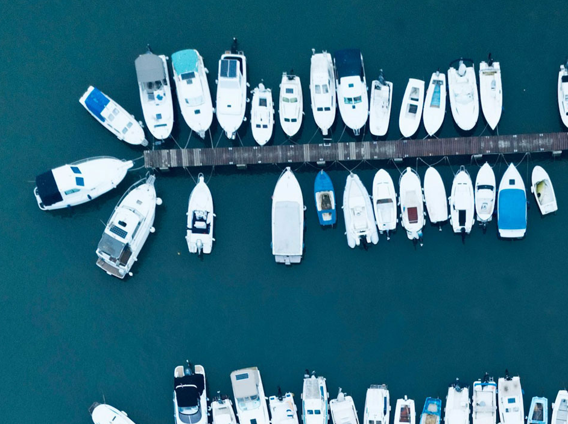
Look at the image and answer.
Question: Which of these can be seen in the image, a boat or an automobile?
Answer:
boat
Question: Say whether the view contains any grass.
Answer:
No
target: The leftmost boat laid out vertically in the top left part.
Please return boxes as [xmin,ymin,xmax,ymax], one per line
[136,44,173,151]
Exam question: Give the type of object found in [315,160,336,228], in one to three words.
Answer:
boat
